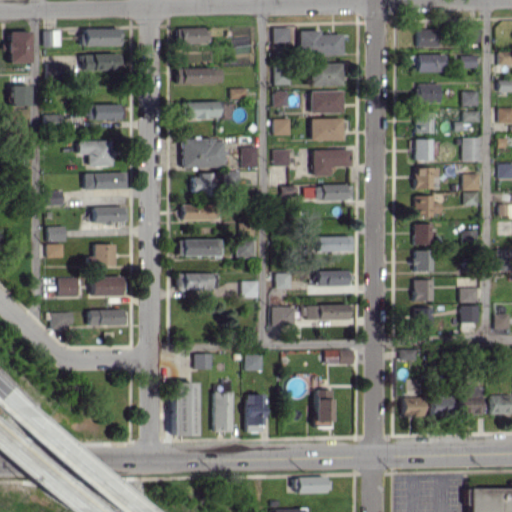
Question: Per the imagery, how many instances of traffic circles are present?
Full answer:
I count no traffic circles.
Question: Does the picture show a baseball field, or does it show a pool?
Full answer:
Visible in the photo is a pool.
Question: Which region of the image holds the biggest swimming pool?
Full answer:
Look in the bottom portion of the view to spot the biggest swimming pool.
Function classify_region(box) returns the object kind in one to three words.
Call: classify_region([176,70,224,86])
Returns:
house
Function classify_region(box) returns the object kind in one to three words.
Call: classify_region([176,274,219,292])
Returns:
house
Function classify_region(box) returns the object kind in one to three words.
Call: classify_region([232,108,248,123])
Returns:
swimming pool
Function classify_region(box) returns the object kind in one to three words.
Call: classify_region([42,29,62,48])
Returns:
building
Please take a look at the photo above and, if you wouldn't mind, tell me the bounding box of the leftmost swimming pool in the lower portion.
[285,376,310,400]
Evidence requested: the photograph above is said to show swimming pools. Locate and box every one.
[285,376,310,400]
[232,108,248,123]
[444,164,458,177]
[288,94,301,108]
[396,368,410,381]
[332,206,344,218]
